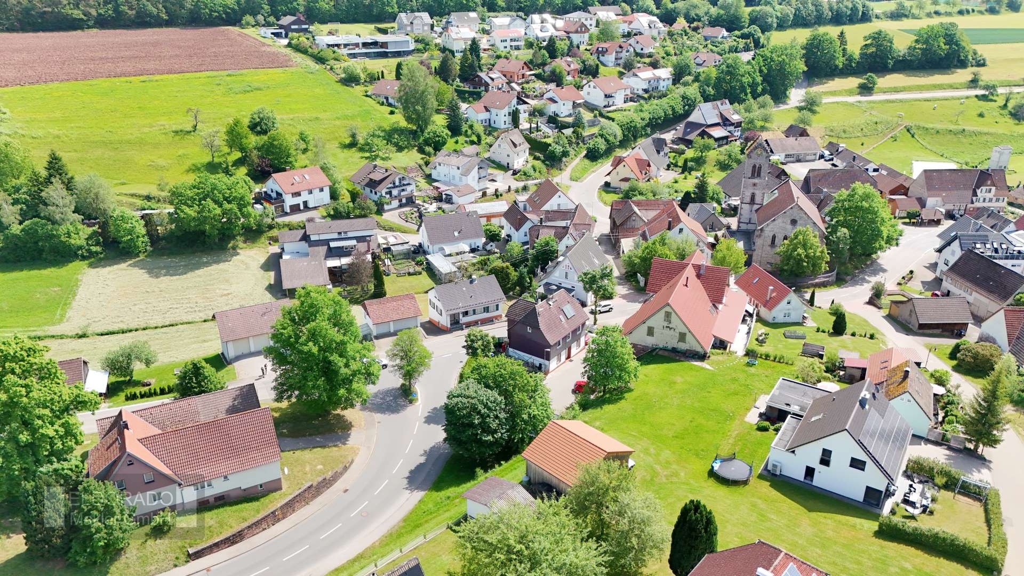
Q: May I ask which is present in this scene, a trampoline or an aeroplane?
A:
trampoline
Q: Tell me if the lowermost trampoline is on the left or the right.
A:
right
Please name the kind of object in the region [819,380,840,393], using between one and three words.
umbrella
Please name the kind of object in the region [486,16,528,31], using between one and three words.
house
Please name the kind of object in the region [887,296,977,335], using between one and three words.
shed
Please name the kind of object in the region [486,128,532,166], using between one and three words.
house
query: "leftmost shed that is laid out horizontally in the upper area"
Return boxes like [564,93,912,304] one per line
[138,208,176,225]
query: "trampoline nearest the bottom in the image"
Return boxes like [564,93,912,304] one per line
[711,447,754,483]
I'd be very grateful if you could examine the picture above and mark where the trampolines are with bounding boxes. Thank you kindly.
[746,348,760,366]
[711,447,754,483]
